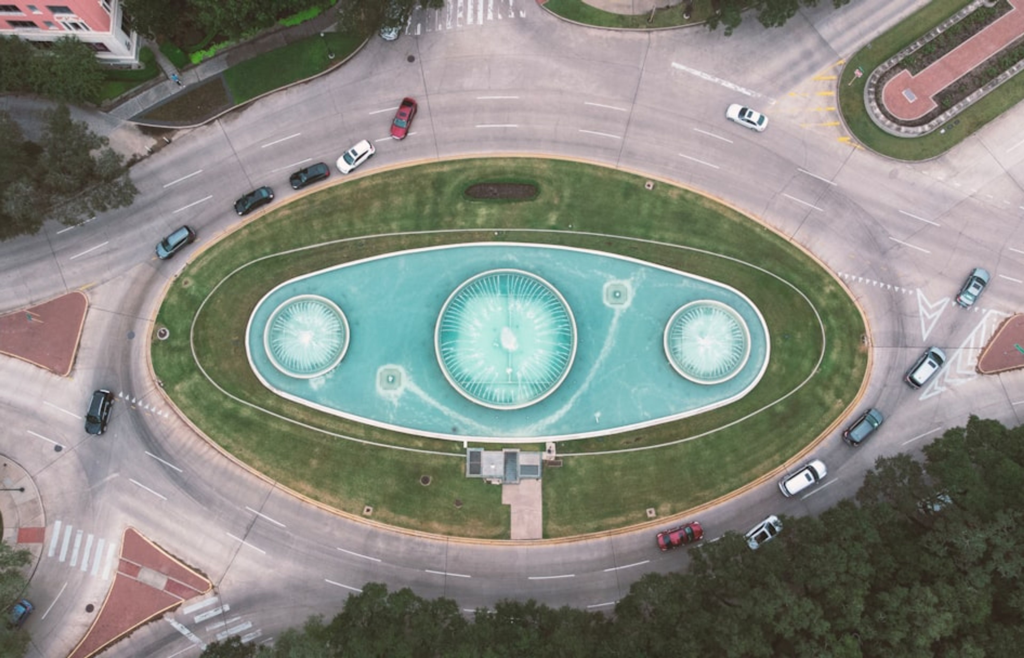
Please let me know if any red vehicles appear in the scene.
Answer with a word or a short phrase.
Yes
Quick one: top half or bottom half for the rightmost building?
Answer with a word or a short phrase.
bottom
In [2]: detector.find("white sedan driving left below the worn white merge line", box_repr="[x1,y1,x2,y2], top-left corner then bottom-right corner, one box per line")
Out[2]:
[727,107,768,131]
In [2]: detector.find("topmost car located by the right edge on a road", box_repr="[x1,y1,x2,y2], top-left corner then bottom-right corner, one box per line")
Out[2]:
[957,269,988,310]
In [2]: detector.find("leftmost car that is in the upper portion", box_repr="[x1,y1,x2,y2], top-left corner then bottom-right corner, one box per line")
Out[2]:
[155,226,197,259]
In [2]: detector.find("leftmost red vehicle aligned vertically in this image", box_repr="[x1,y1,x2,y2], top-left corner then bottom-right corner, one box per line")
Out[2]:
[393,96,417,141]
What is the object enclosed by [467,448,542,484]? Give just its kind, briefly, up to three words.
building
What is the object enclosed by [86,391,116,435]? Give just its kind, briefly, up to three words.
car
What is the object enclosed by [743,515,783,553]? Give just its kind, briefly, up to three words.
car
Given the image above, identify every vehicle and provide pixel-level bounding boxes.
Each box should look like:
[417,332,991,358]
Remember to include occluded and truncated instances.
[290,161,329,191]
[86,391,116,435]
[393,96,417,141]
[336,139,375,175]
[234,185,274,216]
[382,0,405,41]
[155,226,197,259]
[842,408,884,448]
[905,347,944,392]
[743,515,783,553]
[779,460,825,498]
[727,107,768,131]
[957,269,988,310]
[657,523,703,550]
